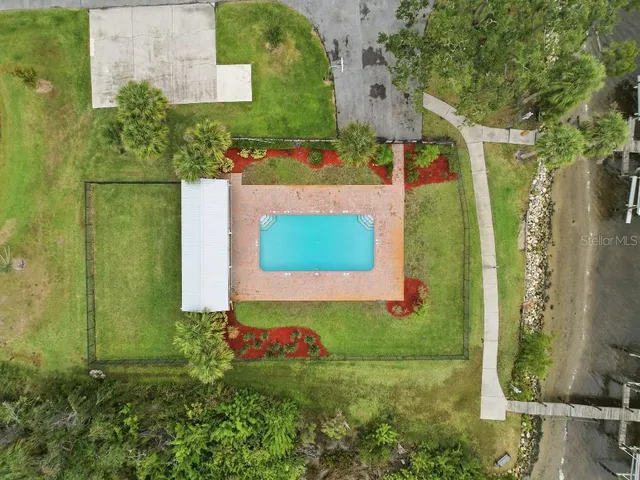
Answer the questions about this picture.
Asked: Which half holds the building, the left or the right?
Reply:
left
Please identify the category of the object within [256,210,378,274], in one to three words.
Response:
swimming pool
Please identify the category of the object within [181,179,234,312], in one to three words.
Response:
building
